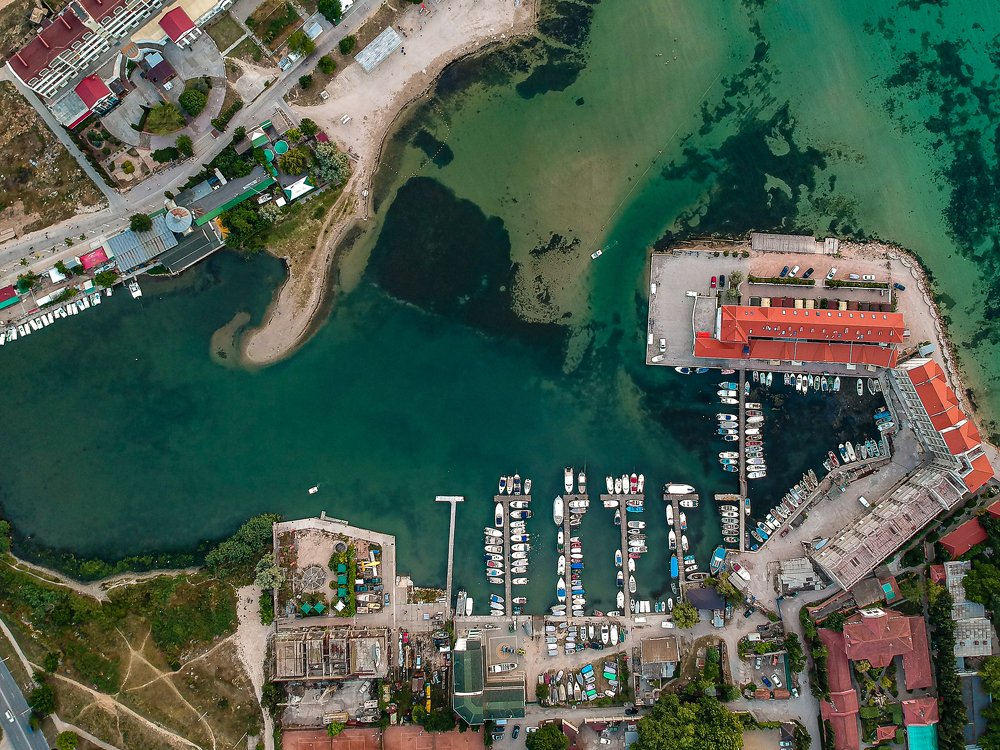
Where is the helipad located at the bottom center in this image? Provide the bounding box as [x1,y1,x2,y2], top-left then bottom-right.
[487,631,521,674]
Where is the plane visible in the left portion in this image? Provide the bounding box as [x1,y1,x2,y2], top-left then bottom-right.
[356,553,379,577]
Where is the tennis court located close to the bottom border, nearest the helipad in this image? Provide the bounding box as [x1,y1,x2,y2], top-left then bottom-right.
[384,724,484,750]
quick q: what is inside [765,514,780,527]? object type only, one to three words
boat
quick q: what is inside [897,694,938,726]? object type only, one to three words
house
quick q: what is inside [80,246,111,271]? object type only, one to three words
tent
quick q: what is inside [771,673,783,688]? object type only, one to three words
vehicle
